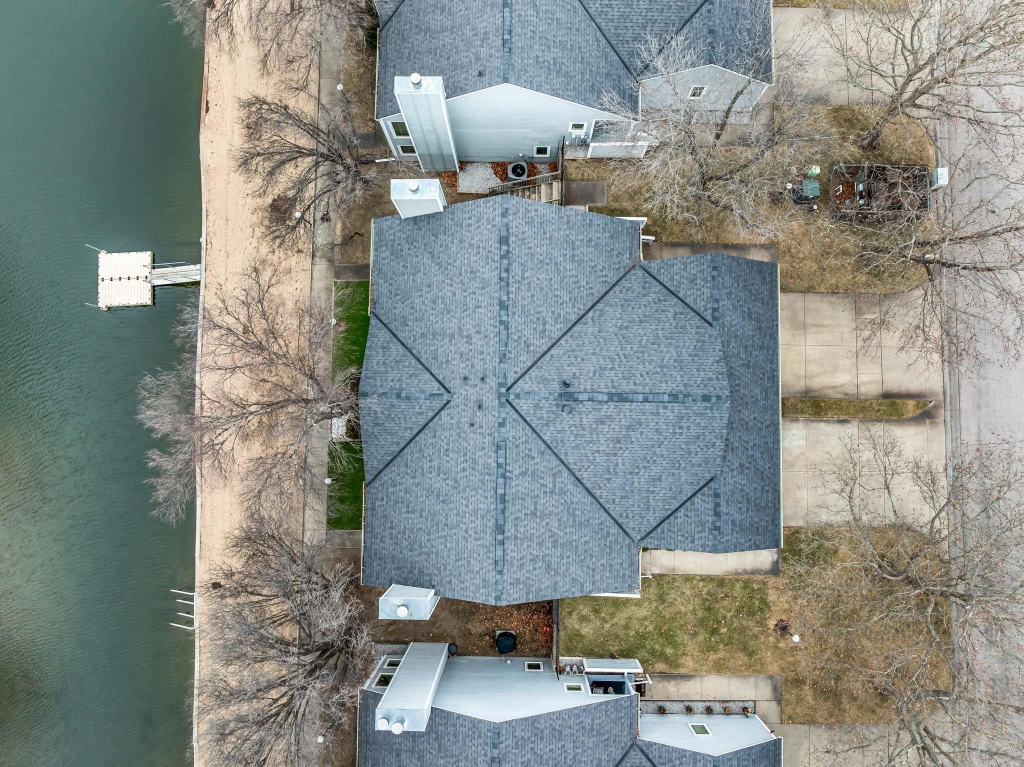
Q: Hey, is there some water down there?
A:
Yes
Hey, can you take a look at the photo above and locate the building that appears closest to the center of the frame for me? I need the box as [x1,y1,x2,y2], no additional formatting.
[358,173,782,629]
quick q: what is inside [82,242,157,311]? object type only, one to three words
pier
